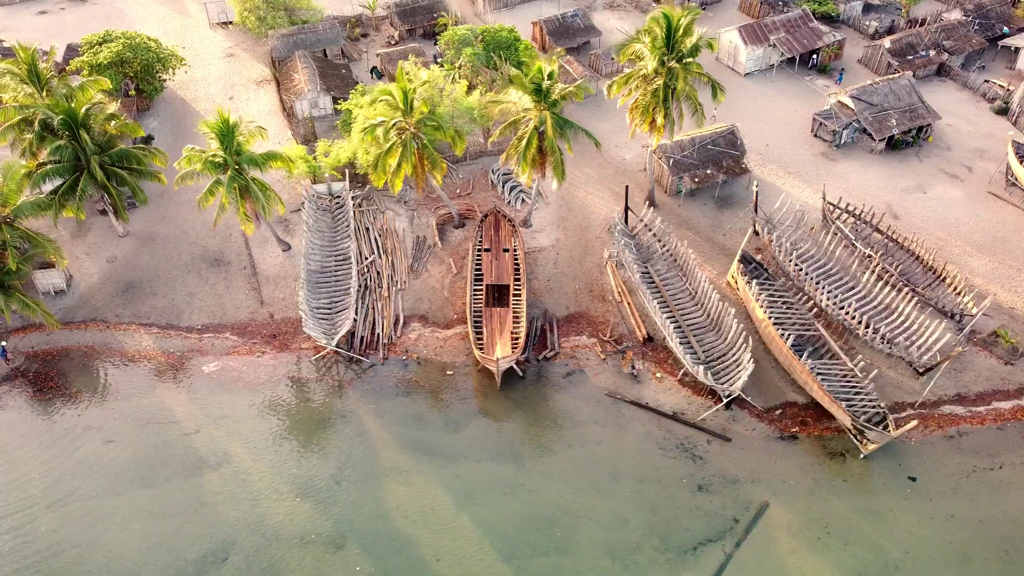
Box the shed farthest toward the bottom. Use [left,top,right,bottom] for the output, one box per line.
[646,130,773,202]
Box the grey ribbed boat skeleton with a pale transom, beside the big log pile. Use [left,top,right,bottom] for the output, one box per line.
[293,174,372,355]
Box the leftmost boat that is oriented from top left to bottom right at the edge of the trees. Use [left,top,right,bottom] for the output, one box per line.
[621,185,758,403]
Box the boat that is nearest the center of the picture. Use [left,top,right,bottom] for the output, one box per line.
[464,207,530,392]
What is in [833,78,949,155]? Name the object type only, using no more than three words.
house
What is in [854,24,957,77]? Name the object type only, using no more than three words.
shed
